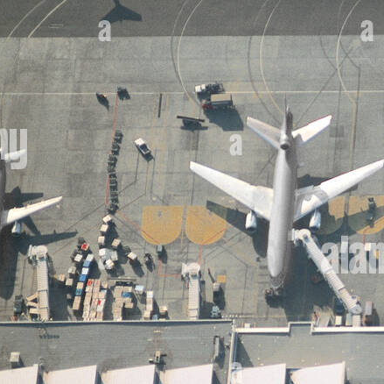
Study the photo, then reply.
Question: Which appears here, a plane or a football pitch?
plane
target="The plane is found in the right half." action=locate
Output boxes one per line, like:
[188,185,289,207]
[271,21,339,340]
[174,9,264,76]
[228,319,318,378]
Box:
[191,83,379,290]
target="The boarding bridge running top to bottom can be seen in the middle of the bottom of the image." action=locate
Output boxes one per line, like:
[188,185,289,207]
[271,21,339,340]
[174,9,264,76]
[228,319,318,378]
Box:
[176,259,207,319]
